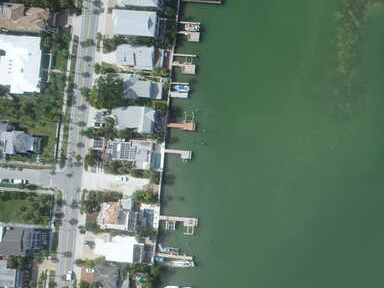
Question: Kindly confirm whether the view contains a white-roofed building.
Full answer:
Yes, there's a white-roofed building here.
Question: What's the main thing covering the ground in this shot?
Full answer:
The scene is dominated by water.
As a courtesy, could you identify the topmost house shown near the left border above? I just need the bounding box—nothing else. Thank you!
[0,2,54,31]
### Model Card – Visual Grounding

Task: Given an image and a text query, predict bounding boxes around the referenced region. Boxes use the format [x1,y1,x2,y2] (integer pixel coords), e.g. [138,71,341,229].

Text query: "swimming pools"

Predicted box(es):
[155,152,161,168]
[143,208,154,222]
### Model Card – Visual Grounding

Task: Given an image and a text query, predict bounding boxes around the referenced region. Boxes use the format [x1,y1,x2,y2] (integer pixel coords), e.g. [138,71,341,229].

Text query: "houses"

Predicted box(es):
[0,121,44,155]
[101,200,135,225]
[111,9,161,39]
[112,106,158,134]
[110,142,157,169]
[0,226,39,252]
[117,0,163,9]
[124,80,166,99]
[115,45,158,71]
[0,260,23,288]
[95,235,142,262]
[0,35,49,94]
[0,2,54,31]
